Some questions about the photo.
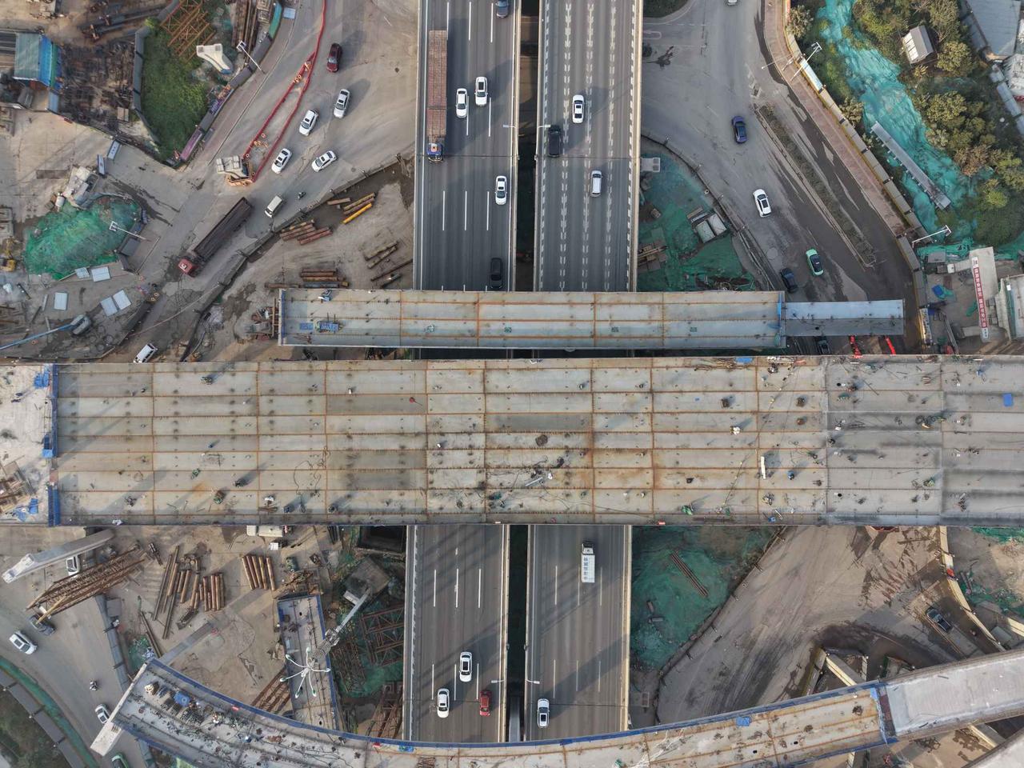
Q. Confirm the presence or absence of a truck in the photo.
Yes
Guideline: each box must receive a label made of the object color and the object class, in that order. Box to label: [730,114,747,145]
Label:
blue car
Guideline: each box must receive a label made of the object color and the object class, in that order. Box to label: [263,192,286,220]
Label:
white car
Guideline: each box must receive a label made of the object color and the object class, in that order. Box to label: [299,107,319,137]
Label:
white car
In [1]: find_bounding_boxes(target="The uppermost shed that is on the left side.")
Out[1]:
[6,33,70,93]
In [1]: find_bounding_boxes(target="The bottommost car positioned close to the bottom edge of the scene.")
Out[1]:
[109,746,133,768]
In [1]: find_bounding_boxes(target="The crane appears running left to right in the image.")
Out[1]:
[0,309,97,345]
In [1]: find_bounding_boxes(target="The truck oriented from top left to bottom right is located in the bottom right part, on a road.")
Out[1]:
[925,606,953,633]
